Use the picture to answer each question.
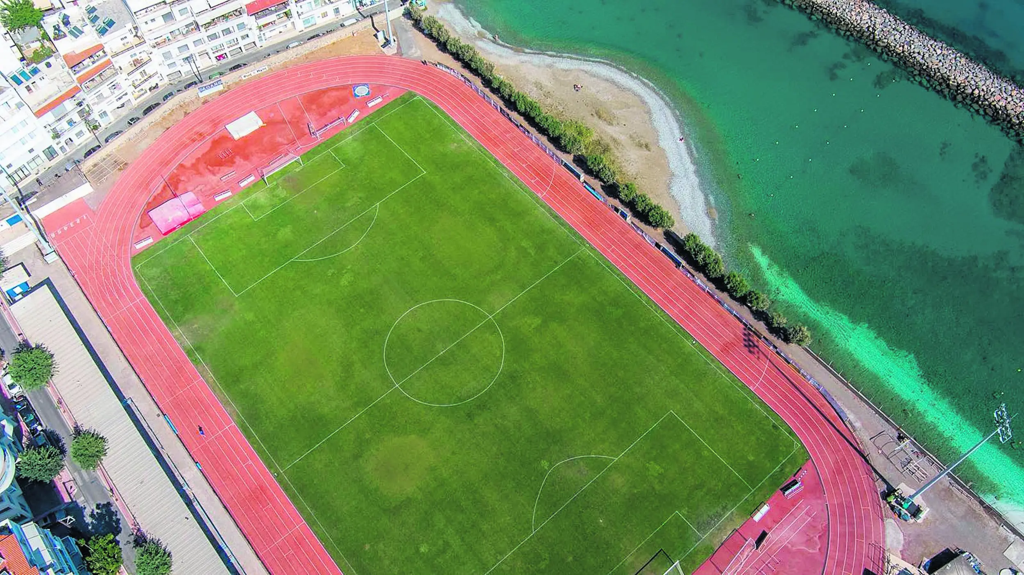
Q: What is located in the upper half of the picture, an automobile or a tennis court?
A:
automobile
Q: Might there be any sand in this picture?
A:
Yes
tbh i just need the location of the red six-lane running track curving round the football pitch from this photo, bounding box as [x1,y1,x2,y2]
[38,54,884,575]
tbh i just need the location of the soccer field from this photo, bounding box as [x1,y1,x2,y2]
[130,89,812,575]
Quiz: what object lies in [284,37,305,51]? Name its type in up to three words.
car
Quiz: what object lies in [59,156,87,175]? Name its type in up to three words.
car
